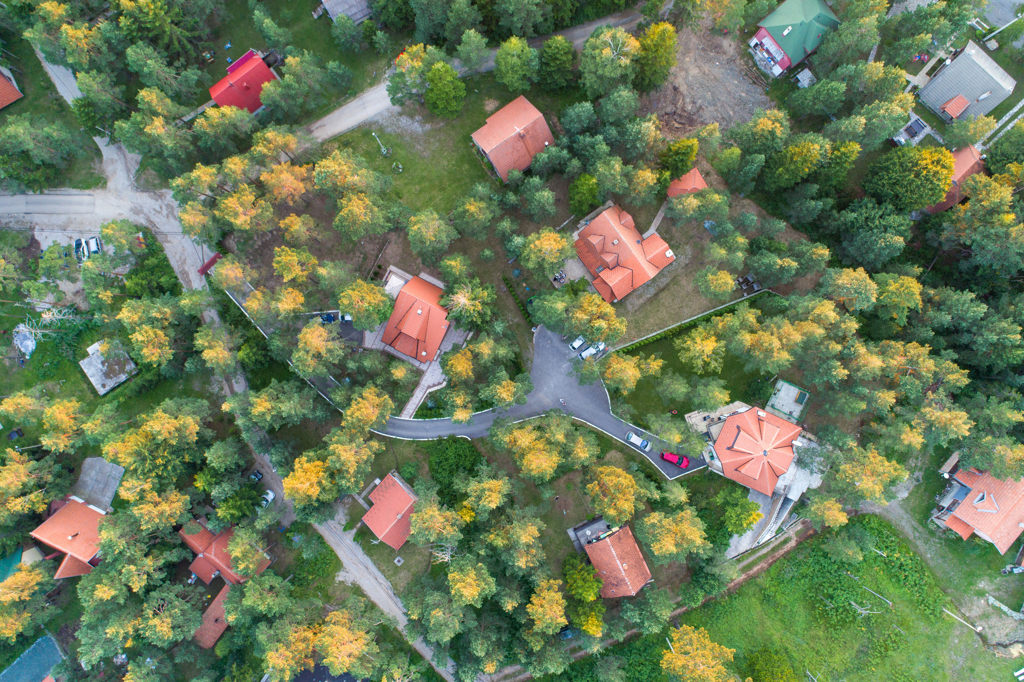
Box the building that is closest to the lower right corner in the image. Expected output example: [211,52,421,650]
[929,447,1024,555]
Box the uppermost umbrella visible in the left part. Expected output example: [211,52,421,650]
[385,275,405,299]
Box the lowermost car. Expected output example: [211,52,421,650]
[552,625,582,647]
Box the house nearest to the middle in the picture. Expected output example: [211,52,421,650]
[382,276,453,363]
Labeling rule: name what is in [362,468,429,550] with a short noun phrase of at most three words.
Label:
house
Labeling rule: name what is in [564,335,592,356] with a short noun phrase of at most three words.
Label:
car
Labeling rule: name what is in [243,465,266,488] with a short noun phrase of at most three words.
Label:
car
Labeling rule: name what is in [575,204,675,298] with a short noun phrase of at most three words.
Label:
house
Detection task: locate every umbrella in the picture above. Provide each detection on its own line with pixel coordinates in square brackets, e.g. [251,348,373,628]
[385,275,405,299]
[24,547,44,562]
